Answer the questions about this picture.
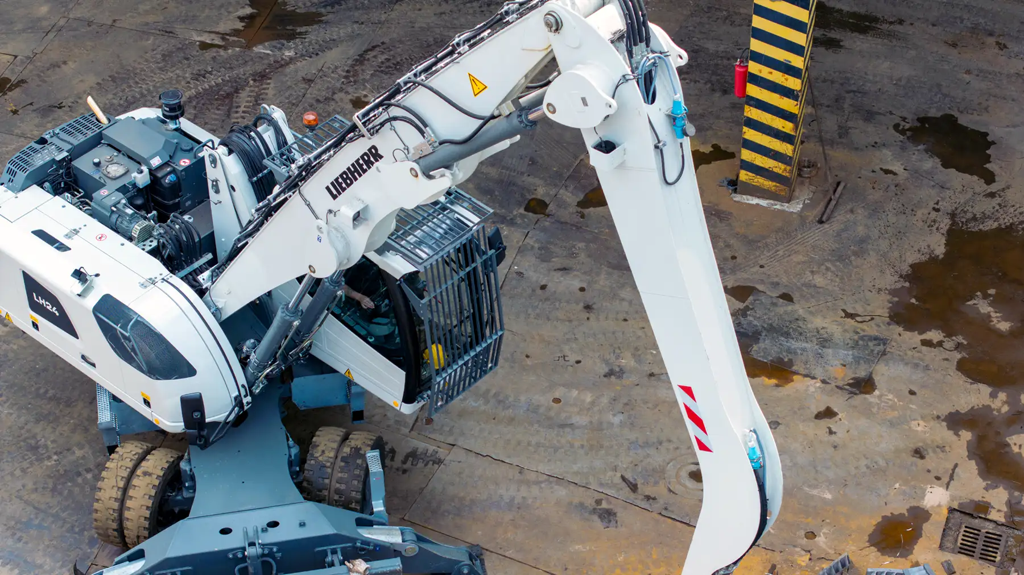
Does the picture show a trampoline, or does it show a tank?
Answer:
tank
